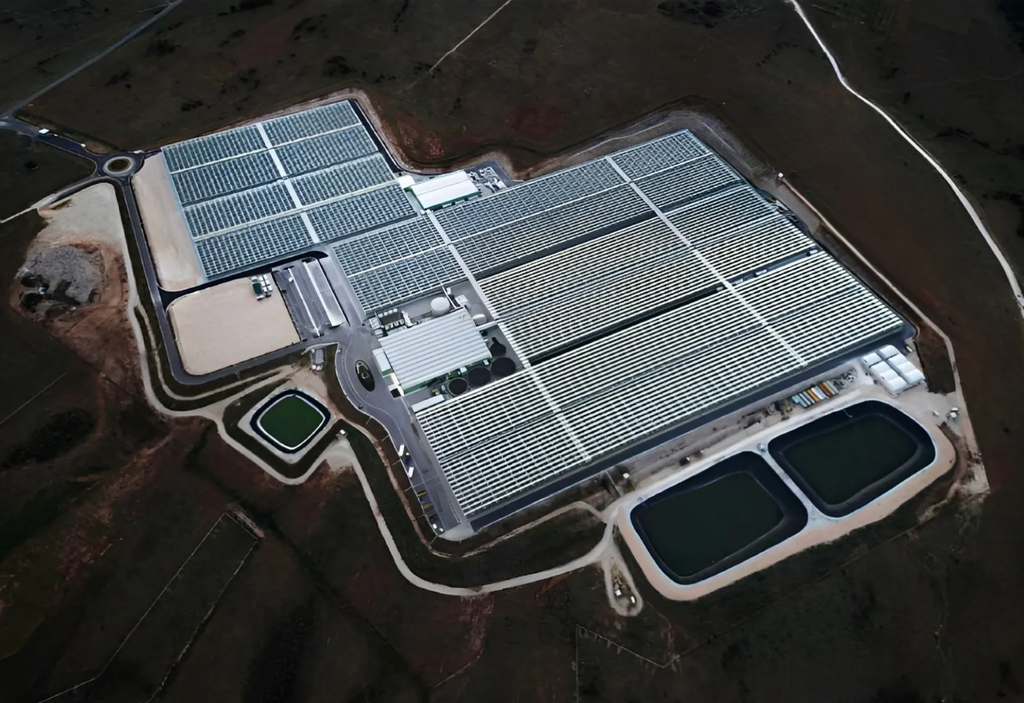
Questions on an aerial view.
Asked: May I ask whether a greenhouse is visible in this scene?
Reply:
Yes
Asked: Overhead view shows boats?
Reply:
No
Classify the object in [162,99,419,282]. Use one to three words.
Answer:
greenhouse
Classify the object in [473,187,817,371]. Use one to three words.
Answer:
greenhouse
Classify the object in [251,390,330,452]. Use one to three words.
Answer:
pond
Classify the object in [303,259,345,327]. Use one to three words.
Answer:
shed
